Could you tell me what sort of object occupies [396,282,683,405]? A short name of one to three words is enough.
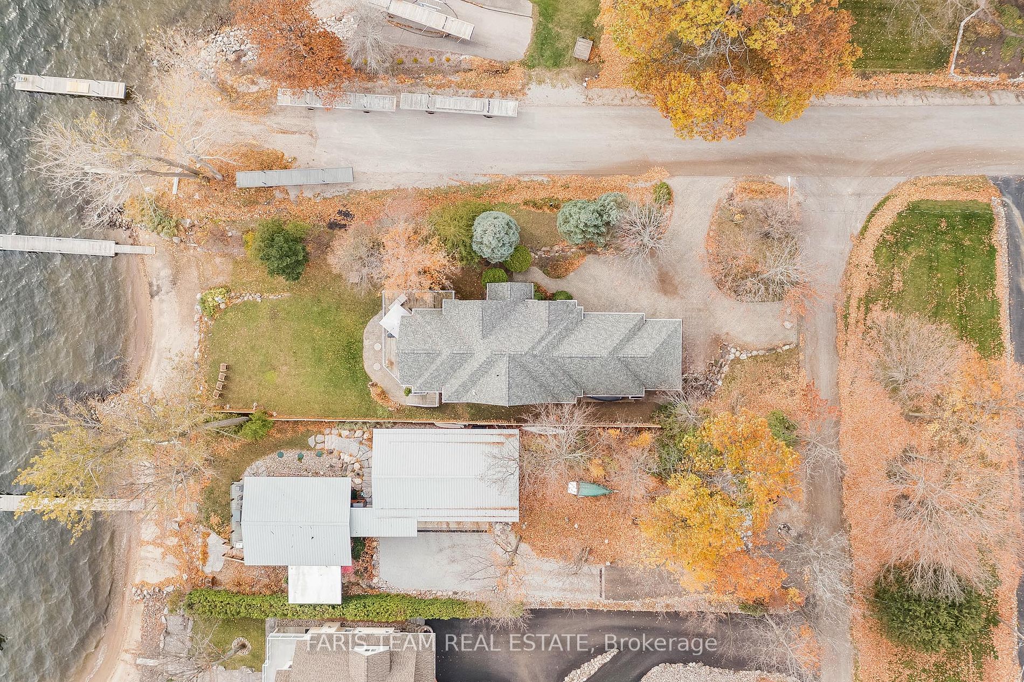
house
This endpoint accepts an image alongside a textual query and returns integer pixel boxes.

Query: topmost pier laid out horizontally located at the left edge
[14,74,128,99]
